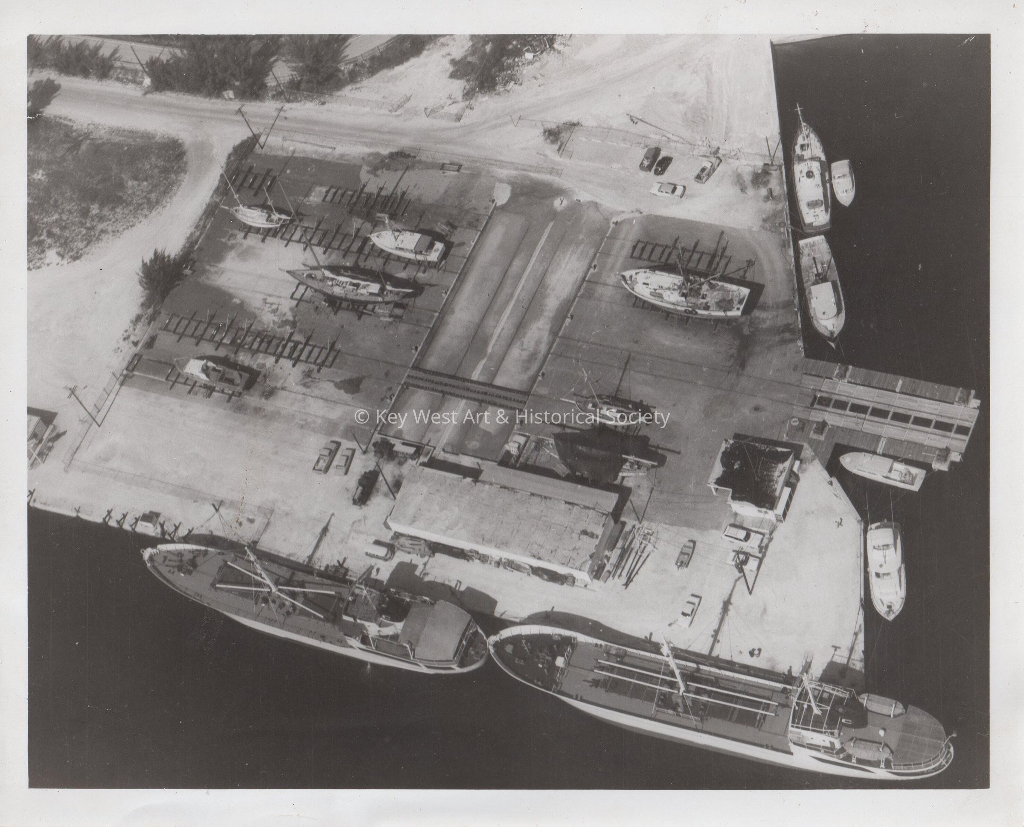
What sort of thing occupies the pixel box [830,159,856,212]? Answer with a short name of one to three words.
boat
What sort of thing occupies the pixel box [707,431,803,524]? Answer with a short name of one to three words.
building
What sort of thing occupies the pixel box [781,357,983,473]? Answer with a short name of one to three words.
pier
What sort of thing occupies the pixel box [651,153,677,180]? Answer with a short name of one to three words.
car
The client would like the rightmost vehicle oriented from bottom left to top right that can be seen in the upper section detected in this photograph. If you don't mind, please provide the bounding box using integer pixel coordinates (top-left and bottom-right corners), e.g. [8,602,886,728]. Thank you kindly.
[692,155,724,186]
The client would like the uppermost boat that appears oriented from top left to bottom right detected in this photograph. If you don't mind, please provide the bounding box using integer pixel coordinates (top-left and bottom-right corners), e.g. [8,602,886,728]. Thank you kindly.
[214,160,290,229]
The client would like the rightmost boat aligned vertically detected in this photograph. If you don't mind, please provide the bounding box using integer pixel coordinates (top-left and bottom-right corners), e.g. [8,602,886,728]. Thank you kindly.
[862,492,909,627]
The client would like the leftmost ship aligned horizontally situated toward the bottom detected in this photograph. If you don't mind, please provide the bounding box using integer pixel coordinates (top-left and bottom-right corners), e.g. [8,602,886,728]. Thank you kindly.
[136,542,490,670]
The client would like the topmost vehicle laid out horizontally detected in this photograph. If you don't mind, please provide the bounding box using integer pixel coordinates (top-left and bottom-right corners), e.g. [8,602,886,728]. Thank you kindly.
[647,186,689,203]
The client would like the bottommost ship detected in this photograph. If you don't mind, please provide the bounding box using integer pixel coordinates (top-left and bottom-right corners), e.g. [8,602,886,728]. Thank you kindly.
[487,627,958,777]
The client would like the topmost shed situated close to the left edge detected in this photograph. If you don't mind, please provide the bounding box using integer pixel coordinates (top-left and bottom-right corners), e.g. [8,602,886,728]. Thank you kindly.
[0,404,48,450]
